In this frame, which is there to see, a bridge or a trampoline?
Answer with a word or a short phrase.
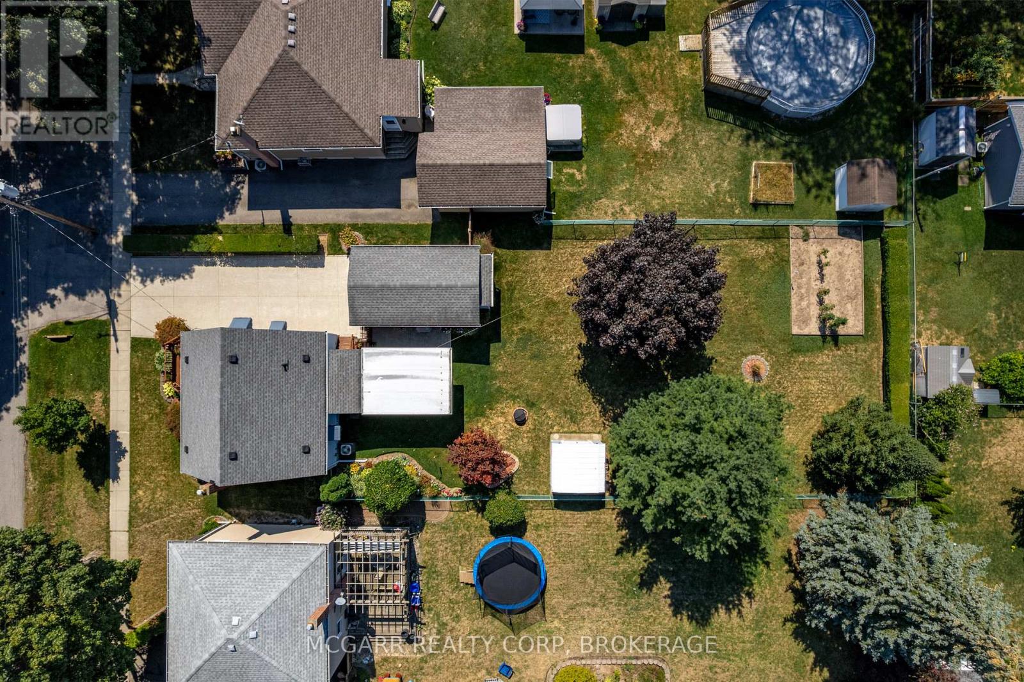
trampoline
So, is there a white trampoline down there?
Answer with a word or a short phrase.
No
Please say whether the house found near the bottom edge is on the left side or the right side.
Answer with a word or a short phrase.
left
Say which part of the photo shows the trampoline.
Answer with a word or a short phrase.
bottom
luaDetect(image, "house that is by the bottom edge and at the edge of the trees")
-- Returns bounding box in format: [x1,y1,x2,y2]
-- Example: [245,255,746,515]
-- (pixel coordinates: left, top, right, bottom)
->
[163,517,357,682]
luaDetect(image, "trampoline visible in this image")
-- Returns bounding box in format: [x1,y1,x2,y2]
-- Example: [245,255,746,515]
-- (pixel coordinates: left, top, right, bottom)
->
[474,533,547,619]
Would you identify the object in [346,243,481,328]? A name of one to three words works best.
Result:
building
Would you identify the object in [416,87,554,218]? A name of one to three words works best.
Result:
building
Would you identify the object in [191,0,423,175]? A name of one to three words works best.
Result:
house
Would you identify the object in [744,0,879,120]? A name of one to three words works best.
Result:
swimming pool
